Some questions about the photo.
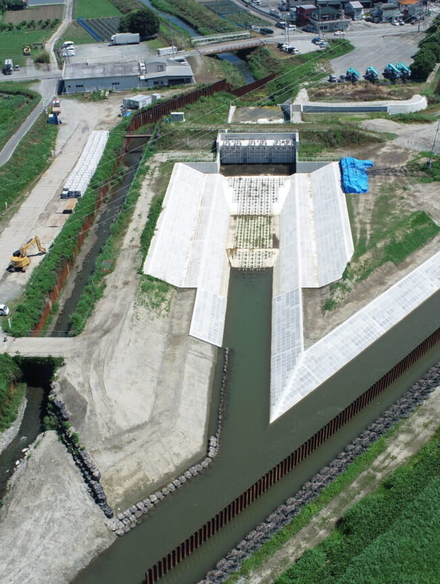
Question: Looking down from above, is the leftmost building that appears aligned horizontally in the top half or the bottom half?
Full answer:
The top half of the photo is where the leftmost building that appears aligned horizontally is.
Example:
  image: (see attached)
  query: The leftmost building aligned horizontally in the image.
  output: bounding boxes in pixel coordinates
[58,58,140,93]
